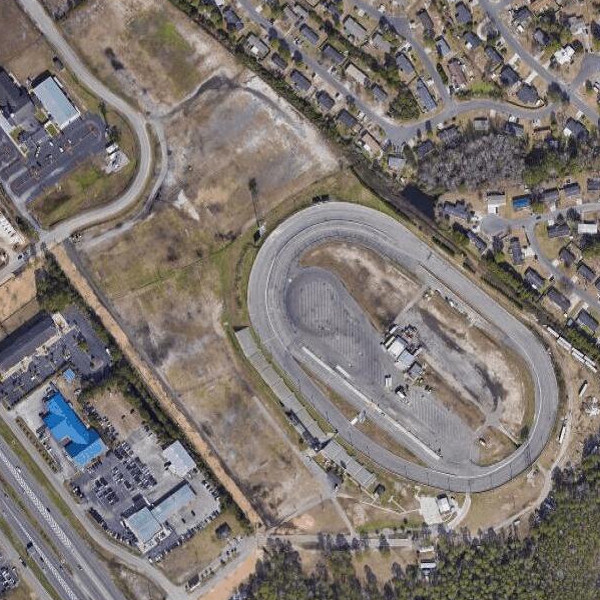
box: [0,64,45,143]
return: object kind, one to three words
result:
building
